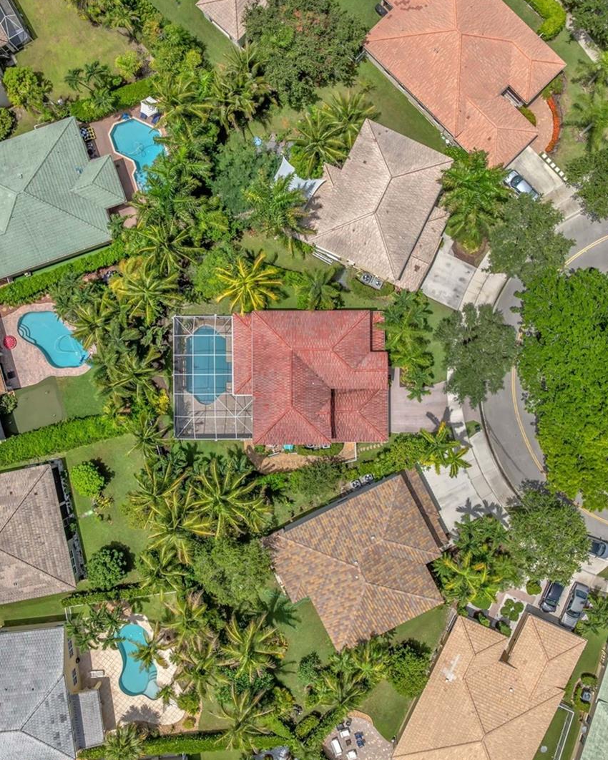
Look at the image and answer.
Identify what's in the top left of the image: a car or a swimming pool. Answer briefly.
swimming pool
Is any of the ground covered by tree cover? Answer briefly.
Yes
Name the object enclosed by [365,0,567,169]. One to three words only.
house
